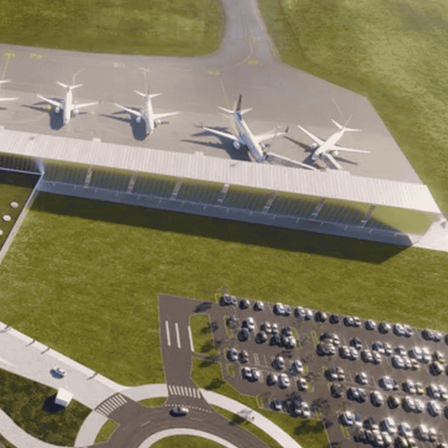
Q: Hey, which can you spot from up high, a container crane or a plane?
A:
plane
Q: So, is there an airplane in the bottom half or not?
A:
No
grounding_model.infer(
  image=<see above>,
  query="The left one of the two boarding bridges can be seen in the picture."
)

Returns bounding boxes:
[266,148,319,170]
